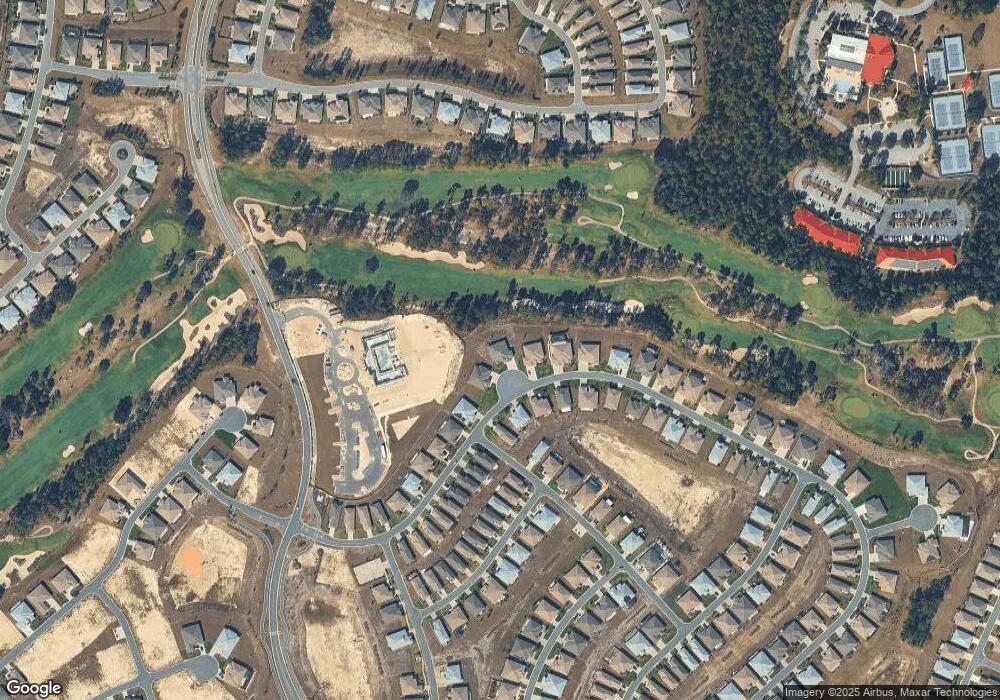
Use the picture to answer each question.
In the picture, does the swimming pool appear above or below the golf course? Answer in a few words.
above it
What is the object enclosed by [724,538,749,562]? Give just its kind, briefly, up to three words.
house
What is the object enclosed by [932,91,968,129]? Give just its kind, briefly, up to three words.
tennis court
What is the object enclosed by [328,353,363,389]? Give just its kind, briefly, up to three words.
roundabout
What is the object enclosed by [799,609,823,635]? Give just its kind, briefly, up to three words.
house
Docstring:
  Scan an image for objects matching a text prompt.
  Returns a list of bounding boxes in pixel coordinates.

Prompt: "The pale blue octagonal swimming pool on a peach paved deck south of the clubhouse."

[823,66,862,102]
